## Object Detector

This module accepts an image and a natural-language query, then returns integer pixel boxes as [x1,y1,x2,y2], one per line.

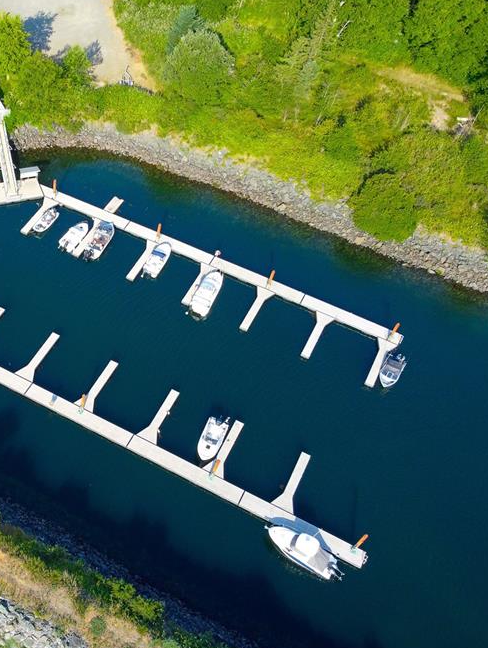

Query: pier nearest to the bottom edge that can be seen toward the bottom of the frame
[0,308,366,571]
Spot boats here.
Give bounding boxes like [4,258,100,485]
[268,522,343,588]
[201,411,235,463]
[141,237,171,284]
[57,219,88,255]
[378,351,408,389]
[183,267,226,324]
[83,220,114,264]
[31,204,61,233]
